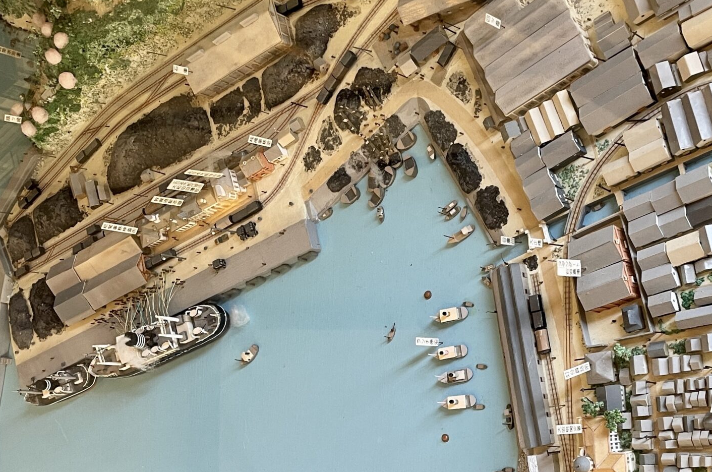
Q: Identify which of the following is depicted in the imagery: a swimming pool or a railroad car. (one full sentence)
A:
I can see a railroad car in this picture.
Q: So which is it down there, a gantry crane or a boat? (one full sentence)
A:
It is a boat that can be seen here.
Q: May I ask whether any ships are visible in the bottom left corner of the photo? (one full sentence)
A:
Yes, in the bottom left corner of the photo there is a ship.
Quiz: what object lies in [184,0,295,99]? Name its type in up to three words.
building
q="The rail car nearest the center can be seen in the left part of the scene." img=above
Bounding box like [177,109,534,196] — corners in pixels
[229,201,265,223]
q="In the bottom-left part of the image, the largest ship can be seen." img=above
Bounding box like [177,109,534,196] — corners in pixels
[76,301,235,387]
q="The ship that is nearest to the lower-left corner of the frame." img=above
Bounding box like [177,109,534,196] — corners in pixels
[8,367,100,409]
